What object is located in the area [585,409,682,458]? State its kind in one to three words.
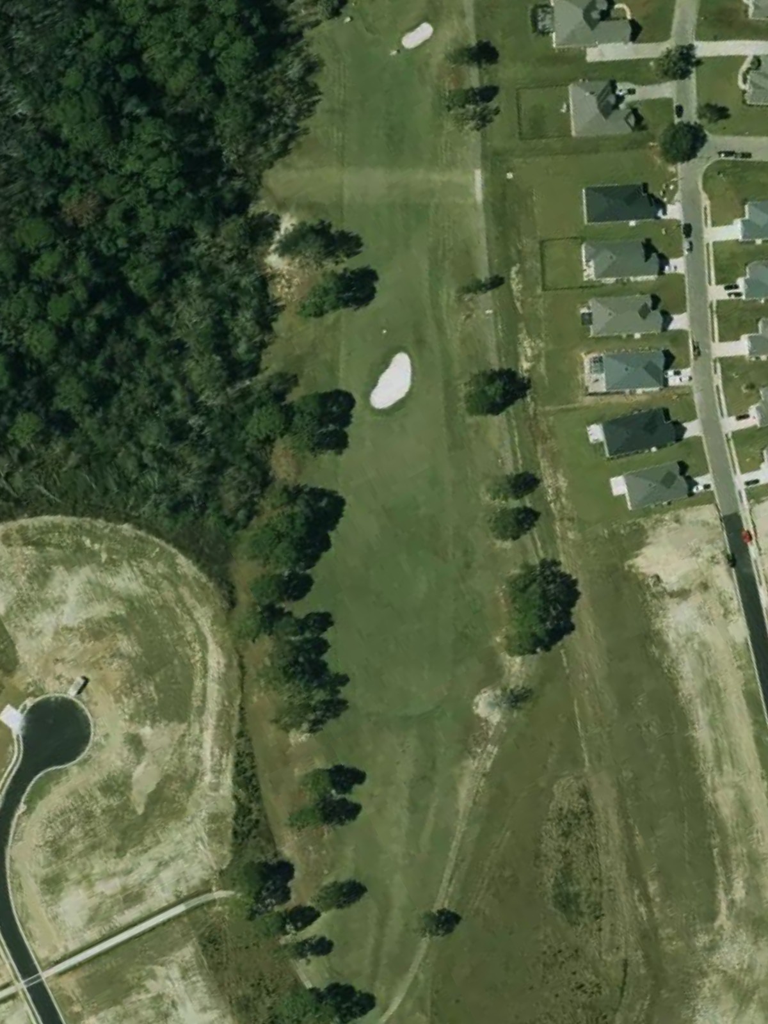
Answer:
house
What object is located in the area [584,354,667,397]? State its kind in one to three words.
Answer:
house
